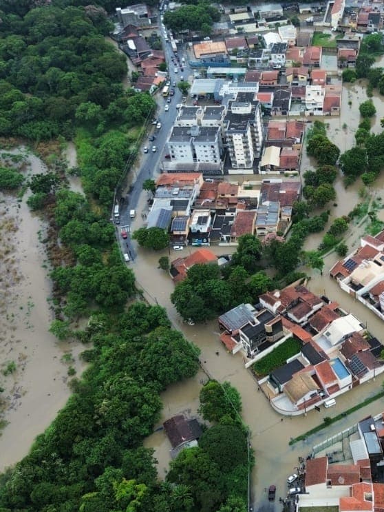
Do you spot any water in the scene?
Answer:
Yes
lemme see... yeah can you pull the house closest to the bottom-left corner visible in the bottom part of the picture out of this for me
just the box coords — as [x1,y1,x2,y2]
[162,414,204,452]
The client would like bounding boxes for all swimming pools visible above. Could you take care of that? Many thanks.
[331,358,351,381]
